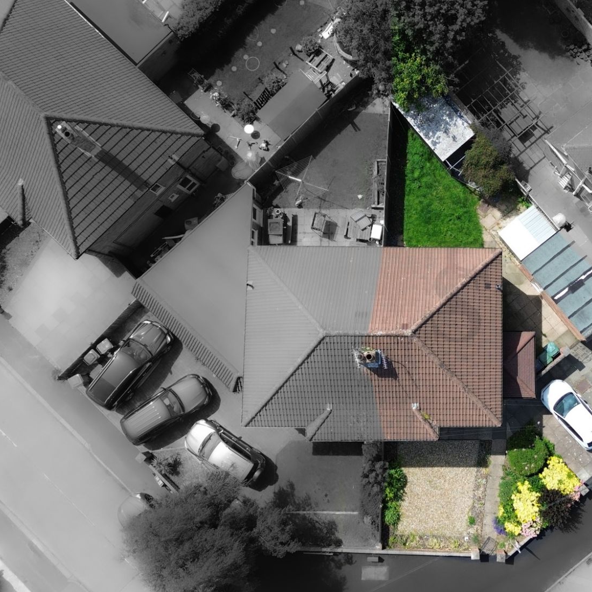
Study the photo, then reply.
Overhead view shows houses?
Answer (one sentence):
Yes, the image includes a house.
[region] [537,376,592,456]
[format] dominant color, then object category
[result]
white car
